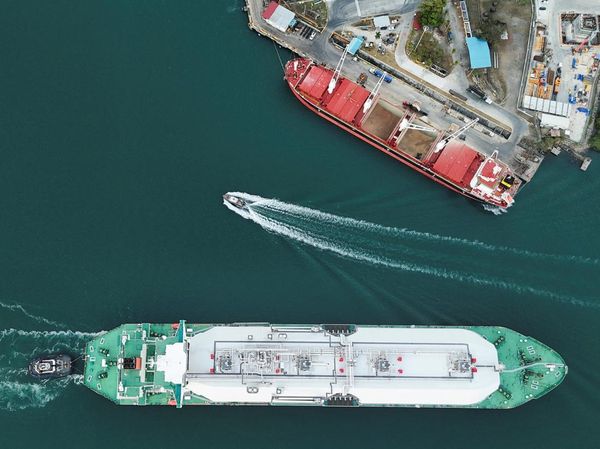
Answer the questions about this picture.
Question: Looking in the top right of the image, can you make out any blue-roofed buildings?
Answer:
Yes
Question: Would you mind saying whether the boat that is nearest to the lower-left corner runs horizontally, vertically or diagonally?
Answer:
horizontally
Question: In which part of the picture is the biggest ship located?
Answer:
bottom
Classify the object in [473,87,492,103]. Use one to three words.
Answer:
vehicle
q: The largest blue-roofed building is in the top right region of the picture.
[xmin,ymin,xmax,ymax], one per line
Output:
[466,36,491,69]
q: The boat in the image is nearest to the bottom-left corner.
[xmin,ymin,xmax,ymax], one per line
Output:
[27,353,83,379]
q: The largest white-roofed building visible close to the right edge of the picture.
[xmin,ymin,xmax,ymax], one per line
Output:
[540,114,571,129]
